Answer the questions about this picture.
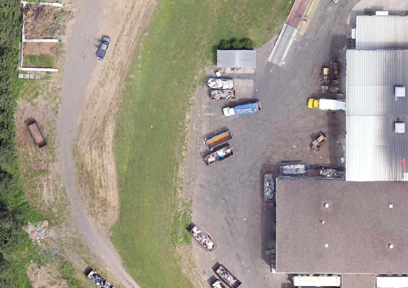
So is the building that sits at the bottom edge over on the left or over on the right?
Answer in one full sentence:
The building that sits at the bottom edge appears in the right half of the scene.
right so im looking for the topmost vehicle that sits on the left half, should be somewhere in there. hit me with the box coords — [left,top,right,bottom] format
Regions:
[96,35,110,59]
